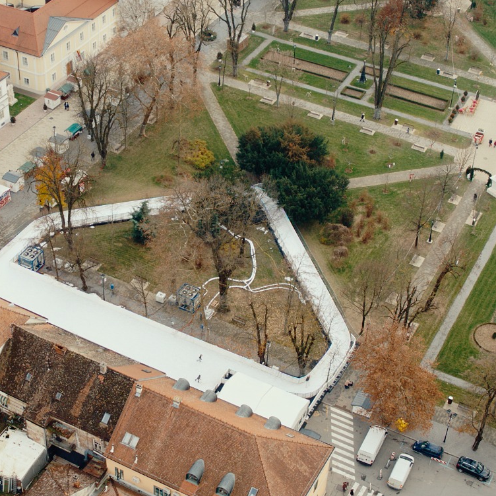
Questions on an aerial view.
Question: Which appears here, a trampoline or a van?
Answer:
van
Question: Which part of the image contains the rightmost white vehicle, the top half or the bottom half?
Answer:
bottom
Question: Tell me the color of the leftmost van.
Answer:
white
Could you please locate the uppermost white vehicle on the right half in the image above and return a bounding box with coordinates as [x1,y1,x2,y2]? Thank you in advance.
[357,424,389,463]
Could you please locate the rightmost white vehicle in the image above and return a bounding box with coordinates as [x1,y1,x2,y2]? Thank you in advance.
[389,455,415,486]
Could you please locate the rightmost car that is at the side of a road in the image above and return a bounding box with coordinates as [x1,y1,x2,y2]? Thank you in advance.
[457,455,492,481]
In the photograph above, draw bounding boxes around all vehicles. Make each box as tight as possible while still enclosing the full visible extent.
[414,439,445,460]
[389,455,415,486]
[457,455,492,481]
[357,424,389,463]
